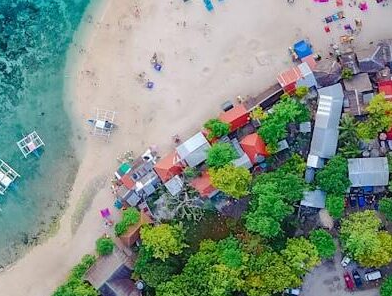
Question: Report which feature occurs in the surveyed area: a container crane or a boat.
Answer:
boat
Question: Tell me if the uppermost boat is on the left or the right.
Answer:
left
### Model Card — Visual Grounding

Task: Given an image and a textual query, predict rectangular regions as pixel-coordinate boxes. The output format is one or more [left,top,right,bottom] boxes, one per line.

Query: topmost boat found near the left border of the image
[16,130,47,160]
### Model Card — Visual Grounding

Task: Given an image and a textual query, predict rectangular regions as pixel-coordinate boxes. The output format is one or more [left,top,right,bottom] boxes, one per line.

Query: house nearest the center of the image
[176,131,211,167]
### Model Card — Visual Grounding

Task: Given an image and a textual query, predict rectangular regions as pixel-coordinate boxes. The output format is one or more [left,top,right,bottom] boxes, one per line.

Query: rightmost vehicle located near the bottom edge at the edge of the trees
[365,270,385,283]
